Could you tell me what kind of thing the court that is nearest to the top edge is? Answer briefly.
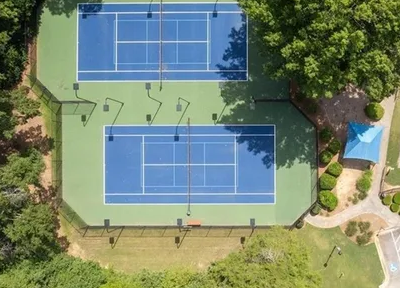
tennis court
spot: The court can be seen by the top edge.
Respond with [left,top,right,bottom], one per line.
[78,4,248,82]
